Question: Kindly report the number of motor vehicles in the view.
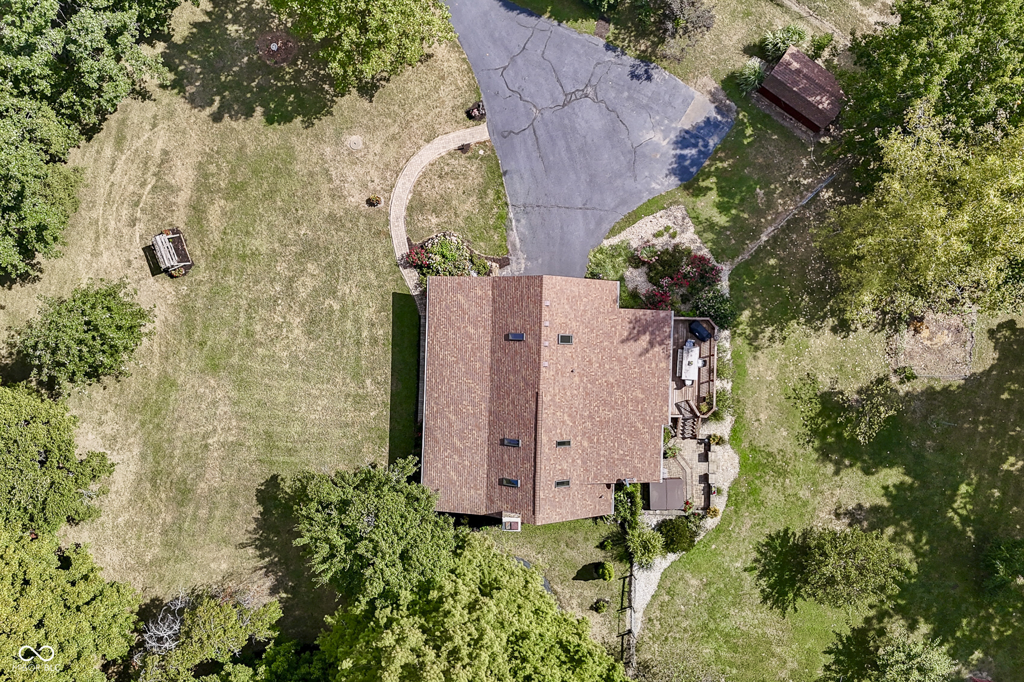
none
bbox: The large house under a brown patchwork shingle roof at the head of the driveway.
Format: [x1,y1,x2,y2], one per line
[419,274,675,532]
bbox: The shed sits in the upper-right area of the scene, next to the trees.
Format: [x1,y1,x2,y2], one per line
[755,44,852,134]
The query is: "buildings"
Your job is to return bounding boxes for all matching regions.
[419,274,675,532]
[755,44,852,134]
